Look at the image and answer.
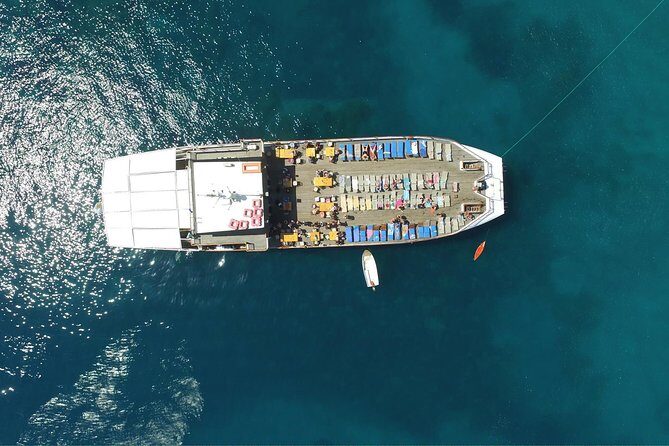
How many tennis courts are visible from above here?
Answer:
0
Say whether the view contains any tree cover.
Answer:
No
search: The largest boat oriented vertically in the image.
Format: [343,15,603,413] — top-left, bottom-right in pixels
[362,249,380,290]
